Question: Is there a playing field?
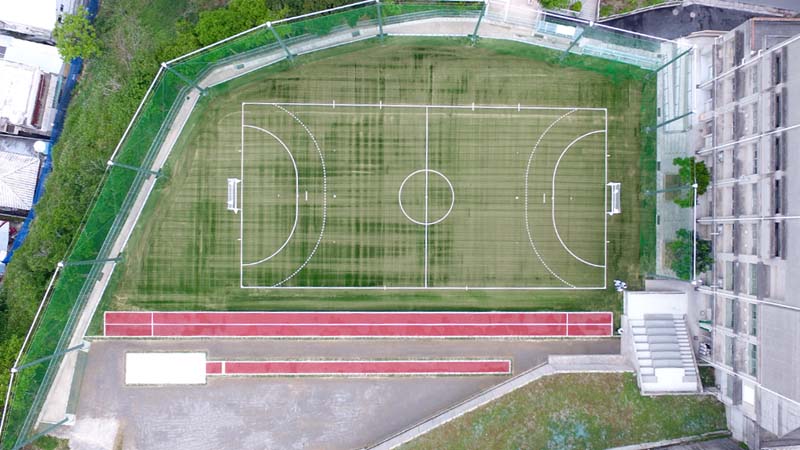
Yes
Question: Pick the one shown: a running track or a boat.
running track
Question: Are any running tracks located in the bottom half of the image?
Yes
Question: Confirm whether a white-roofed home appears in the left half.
Yes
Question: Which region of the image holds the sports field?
center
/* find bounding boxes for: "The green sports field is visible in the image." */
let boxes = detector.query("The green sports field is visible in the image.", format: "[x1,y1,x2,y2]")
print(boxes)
[86,37,655,340]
